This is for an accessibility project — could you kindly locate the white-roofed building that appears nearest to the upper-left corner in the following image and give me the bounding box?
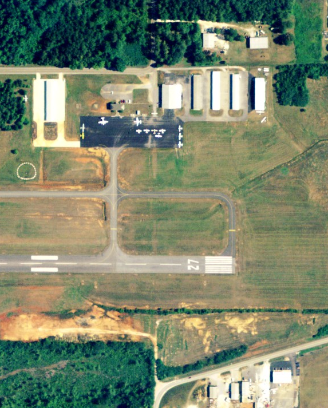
[46,81,59,121]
